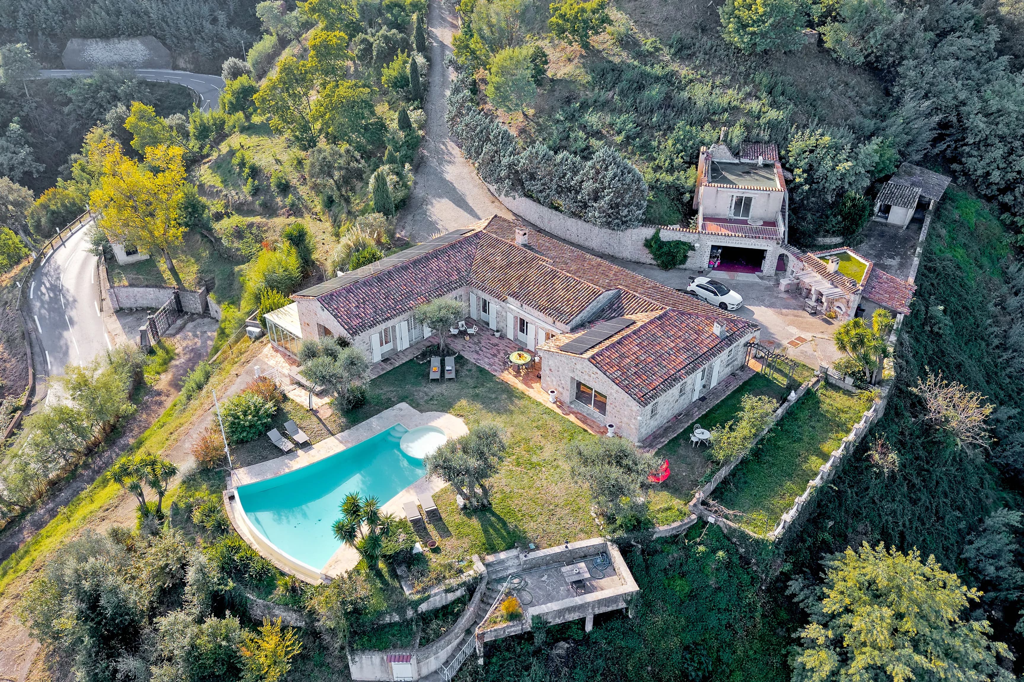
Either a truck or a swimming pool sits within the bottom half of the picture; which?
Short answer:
swimming pool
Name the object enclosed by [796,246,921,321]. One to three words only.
building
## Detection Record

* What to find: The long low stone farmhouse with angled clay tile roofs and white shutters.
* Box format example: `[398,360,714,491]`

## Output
[262,214,762,446]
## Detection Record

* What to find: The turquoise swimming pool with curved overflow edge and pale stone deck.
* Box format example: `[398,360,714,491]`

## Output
[211,402,466,604]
